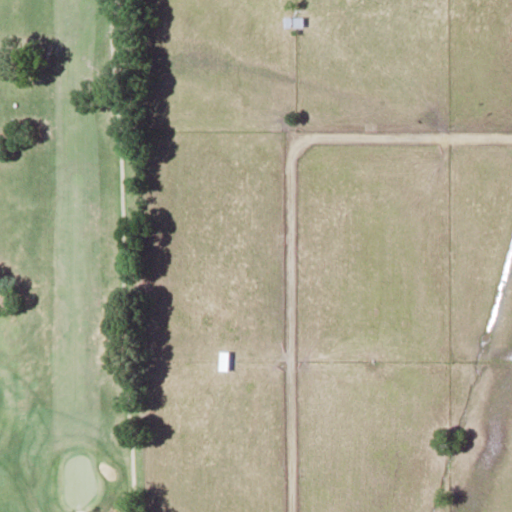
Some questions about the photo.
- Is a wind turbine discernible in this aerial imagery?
No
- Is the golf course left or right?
left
